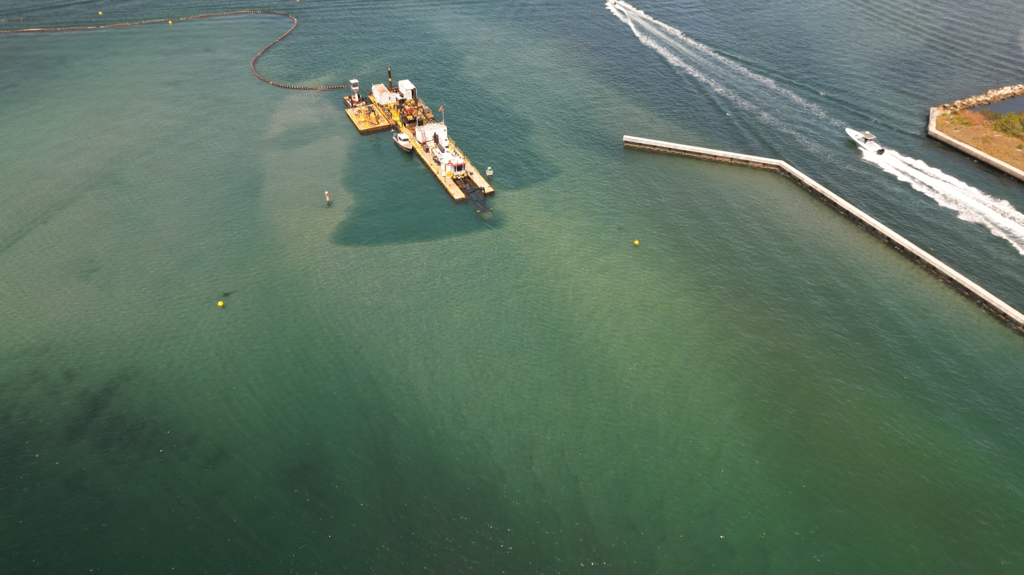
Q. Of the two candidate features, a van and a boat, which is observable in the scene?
boat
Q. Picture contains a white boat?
Yes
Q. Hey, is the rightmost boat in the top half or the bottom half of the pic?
top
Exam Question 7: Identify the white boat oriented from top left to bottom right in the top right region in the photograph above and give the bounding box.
[847,121,890,154]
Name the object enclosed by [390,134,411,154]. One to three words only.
boat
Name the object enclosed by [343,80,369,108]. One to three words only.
boat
